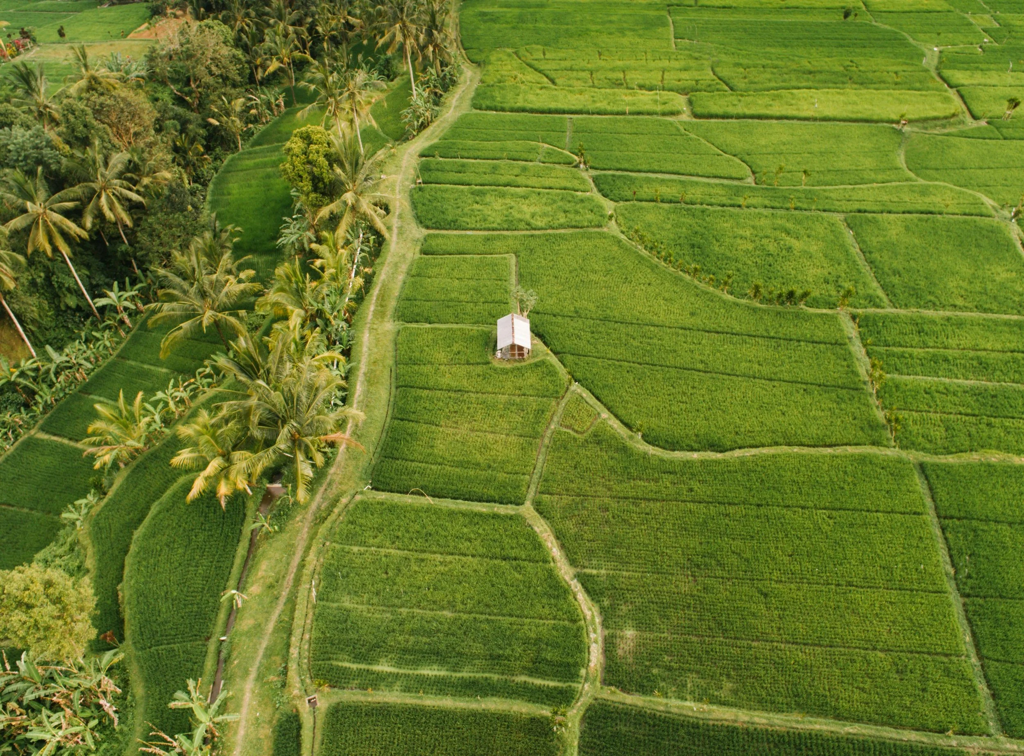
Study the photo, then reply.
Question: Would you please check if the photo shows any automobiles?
No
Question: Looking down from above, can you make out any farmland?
Yes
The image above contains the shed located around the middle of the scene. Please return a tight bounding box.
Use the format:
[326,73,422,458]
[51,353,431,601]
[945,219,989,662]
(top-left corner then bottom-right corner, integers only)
[496,308,532,357]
